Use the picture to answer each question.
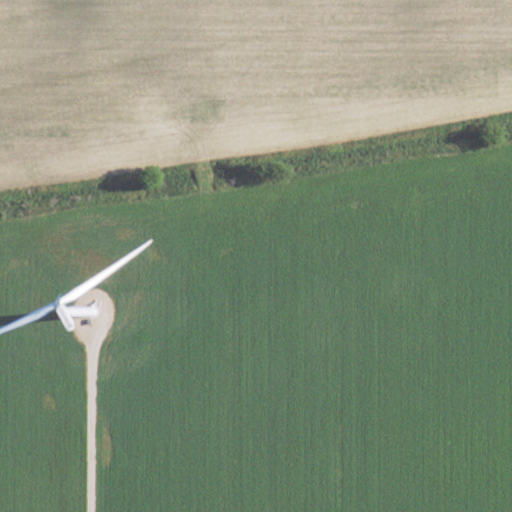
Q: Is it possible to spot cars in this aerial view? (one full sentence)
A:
No, the photo shows no car.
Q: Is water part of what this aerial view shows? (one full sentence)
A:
No, water can't be seen anywhere here.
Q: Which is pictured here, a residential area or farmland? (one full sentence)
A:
The area seen from above is farmland.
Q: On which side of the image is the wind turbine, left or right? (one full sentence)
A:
It is on the left.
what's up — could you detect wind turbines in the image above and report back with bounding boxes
[0,240,153,334]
